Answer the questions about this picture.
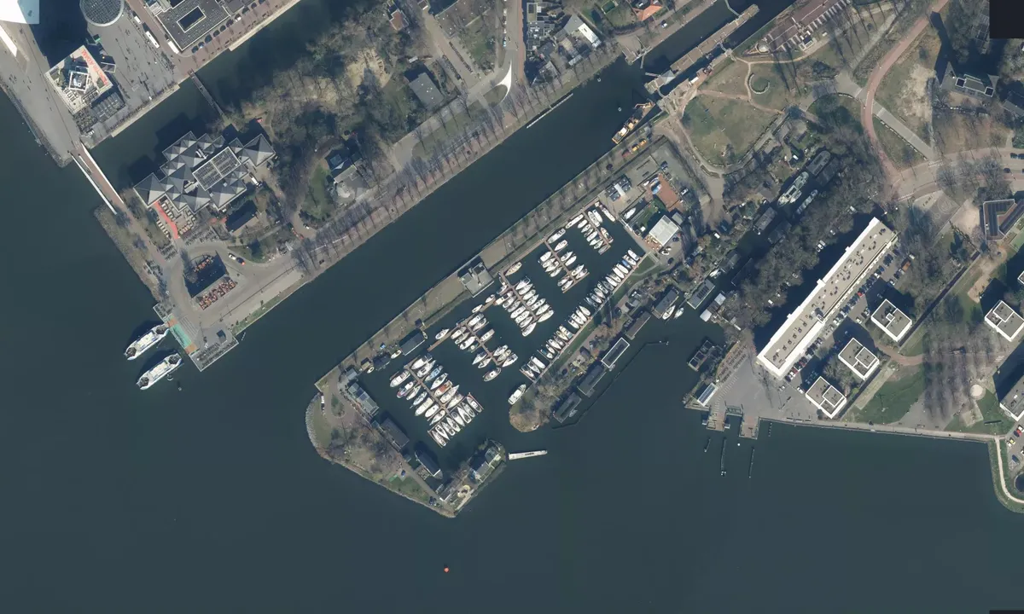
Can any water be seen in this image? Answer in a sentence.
Yes, the picture does contain water.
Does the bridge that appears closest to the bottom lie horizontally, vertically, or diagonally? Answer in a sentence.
The bridge that appears closest to the bottom is laid out diagonally.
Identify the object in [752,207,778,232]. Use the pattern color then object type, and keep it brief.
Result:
gray boat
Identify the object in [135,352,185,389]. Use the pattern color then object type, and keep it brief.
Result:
white ship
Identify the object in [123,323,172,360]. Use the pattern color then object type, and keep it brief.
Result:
white ship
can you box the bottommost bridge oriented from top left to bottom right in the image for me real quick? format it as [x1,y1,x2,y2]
[68,143,125,213]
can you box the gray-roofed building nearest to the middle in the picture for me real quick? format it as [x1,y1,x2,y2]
[461,263,493,298]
